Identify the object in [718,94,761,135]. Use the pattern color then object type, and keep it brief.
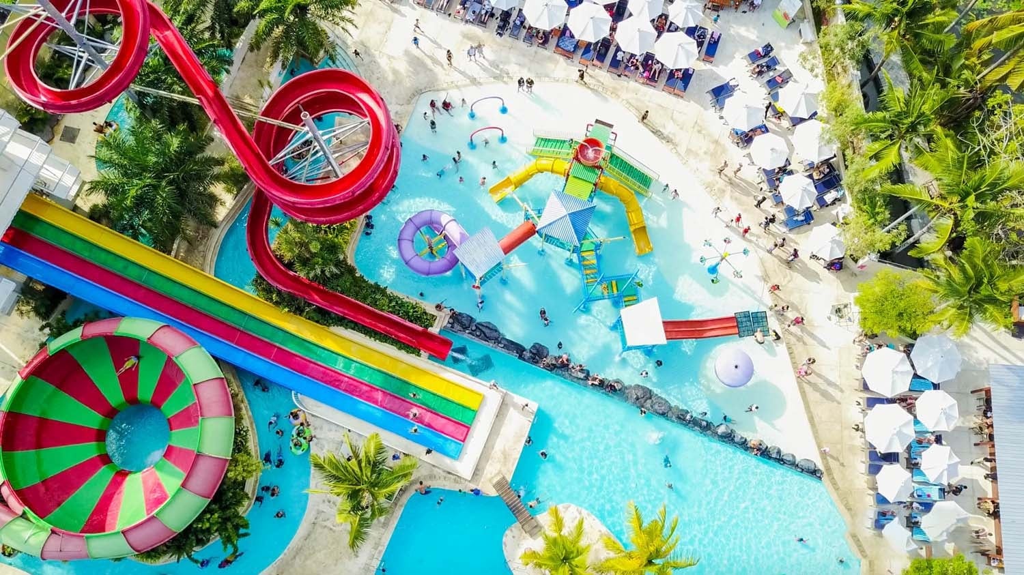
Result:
white umbrella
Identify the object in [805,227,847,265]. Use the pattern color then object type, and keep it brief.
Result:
white umbrella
